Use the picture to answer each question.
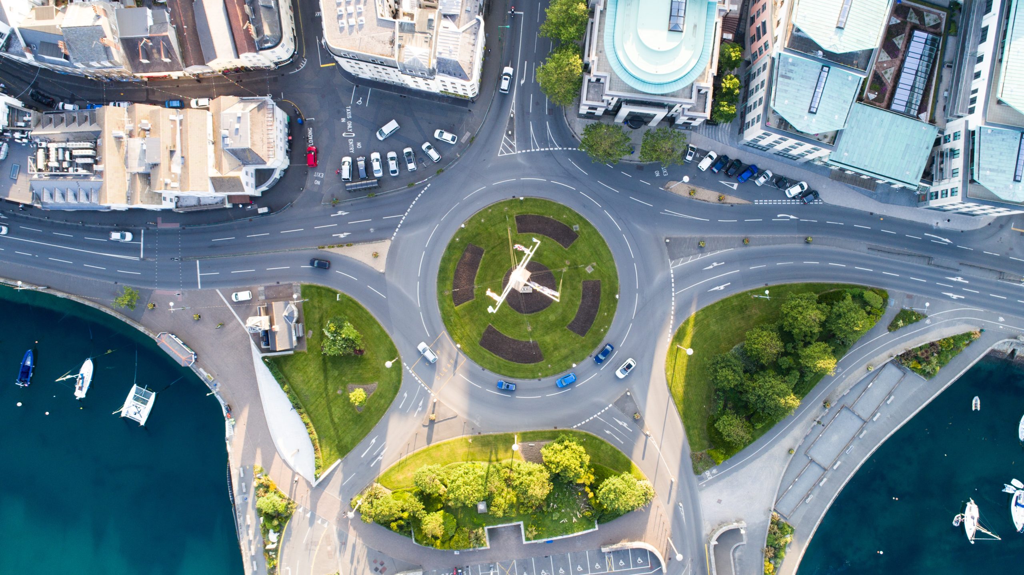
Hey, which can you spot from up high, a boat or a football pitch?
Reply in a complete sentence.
I can see a boat in this picture.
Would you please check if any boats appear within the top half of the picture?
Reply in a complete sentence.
No, no boat is visible within the top half of the picture.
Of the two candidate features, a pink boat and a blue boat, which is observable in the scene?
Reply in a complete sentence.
The one in the frame is a blue boat.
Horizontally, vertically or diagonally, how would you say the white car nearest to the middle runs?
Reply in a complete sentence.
The white car nearest to the middle is oriented diagonally.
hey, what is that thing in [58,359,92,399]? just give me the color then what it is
white boat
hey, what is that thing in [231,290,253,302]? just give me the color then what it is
white vehicle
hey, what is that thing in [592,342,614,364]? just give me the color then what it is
blue car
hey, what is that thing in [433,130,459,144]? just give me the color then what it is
white car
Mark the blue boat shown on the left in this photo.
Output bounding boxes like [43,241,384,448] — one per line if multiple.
[15,350,32,387]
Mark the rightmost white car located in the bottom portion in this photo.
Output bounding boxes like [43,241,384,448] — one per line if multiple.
[615,356,636,380]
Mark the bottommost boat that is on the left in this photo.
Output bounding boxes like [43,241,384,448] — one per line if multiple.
[114,384,156,426]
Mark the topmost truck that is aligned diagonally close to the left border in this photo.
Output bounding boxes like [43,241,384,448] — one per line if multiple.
[29,88,57,109]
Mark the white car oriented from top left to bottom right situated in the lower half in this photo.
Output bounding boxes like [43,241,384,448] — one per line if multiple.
[418,340,439,364]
